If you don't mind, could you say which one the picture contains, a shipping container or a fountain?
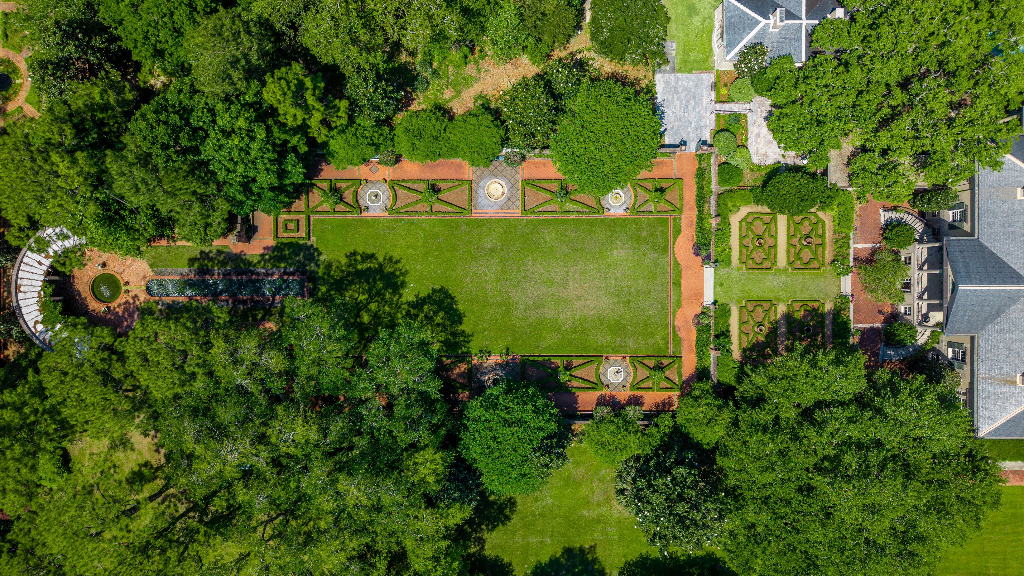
fountain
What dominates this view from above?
trees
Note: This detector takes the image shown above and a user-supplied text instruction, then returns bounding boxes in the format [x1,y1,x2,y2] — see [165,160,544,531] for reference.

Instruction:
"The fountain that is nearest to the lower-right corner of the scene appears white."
[608,366,624,382]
